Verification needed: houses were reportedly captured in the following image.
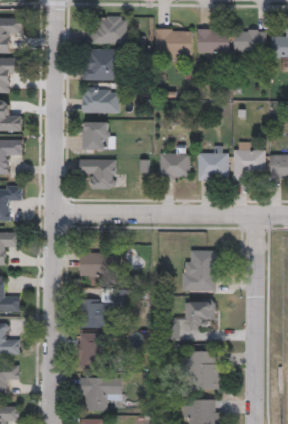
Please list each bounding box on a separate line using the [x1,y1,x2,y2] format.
[0,187,22,222]
[83,122,108,150]
[0,18,22,53]
[0,58,14,94]
[0,324,20,356]
[273,26,288,74]
[82,88,120,114]
[234,30,266,52]
[198,146,230,181]
[184,401,219,424]
[0,100,22,132]
[0,363,19,394]
[234,150,266,182]
[82,300,104,329]
[161,154,190,178]
[270,155,288,178]
[80,332,96,371]
[92,16,127,44]
[80,253,105,286]
[172,302,215,342]
[192,352,219,391]
[80,379,122,413]
[0,140,22,176]
[0,233,16,266]
[197,30,230,54]
[83,50,114,81]
[183,250,215,292]
[79,160,116,190]
[156,29,193,60]
[0,407,18,424]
